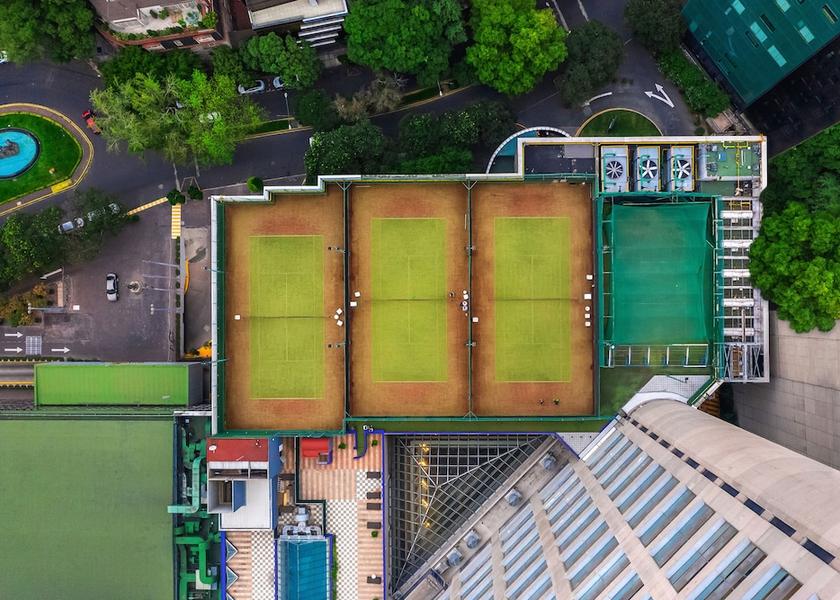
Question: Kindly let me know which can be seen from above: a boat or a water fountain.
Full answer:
The image shows a water fountain.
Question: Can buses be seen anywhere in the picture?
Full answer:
No, no bus can be seen from above.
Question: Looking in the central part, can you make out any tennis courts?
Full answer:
Yes, a tennis court is visible in the central part.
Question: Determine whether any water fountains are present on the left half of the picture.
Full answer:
Yes, a water fountain is visible on the left half of the picture.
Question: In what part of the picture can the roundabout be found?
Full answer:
The roundabout sits in the top left section of the image.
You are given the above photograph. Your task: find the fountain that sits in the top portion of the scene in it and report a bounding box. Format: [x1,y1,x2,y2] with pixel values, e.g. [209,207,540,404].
[0,126,39,179]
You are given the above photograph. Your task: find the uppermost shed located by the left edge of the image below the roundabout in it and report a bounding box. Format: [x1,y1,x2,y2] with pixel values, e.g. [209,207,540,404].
[34,360,206,405]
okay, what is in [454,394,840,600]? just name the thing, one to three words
building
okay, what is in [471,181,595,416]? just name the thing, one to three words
tennis court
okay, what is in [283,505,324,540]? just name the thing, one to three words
fountain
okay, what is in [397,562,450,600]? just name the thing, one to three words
building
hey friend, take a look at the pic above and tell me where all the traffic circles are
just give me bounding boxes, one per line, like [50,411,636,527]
[0,104,93,215]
